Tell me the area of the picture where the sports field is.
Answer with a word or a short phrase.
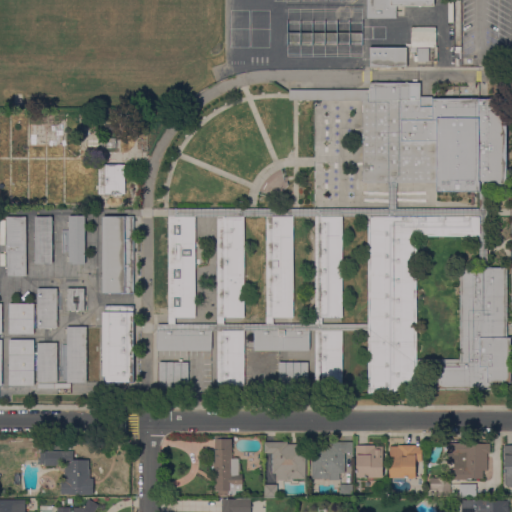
top left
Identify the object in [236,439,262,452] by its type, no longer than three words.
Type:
swimming pool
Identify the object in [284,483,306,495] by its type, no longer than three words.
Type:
swimming pool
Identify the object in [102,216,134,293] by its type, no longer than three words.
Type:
building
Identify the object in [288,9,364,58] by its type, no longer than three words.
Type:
sports court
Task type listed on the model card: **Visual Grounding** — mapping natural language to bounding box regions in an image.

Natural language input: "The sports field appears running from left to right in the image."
[0,0,226,106]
